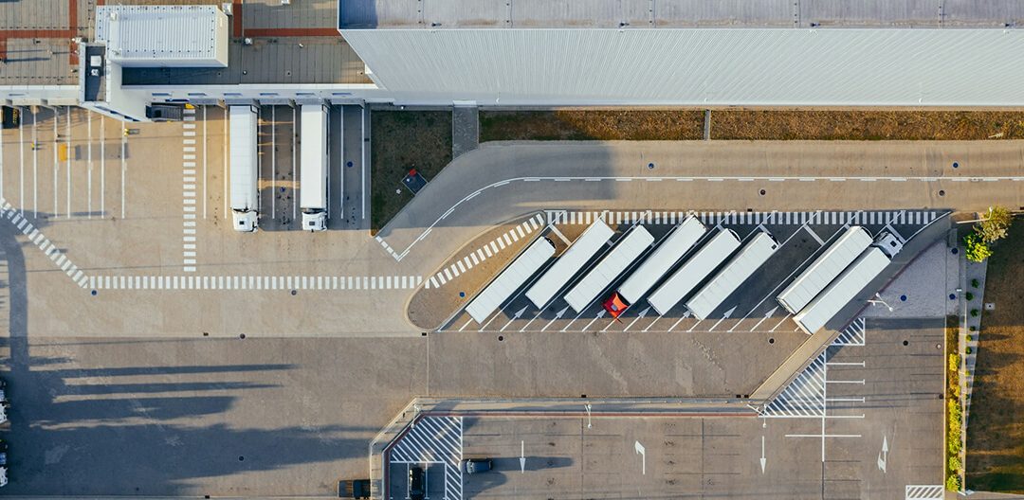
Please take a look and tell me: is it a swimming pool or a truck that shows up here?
truck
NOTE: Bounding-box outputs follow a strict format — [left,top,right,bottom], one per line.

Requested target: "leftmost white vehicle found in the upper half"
[230,105,259,233]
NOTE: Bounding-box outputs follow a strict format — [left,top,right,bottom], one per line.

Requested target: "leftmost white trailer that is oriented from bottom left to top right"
[466,236,556,324]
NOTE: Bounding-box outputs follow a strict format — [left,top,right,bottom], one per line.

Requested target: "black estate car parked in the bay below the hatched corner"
[410,465,427,499]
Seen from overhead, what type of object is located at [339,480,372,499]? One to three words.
vehicle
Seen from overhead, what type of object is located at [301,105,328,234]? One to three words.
truck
